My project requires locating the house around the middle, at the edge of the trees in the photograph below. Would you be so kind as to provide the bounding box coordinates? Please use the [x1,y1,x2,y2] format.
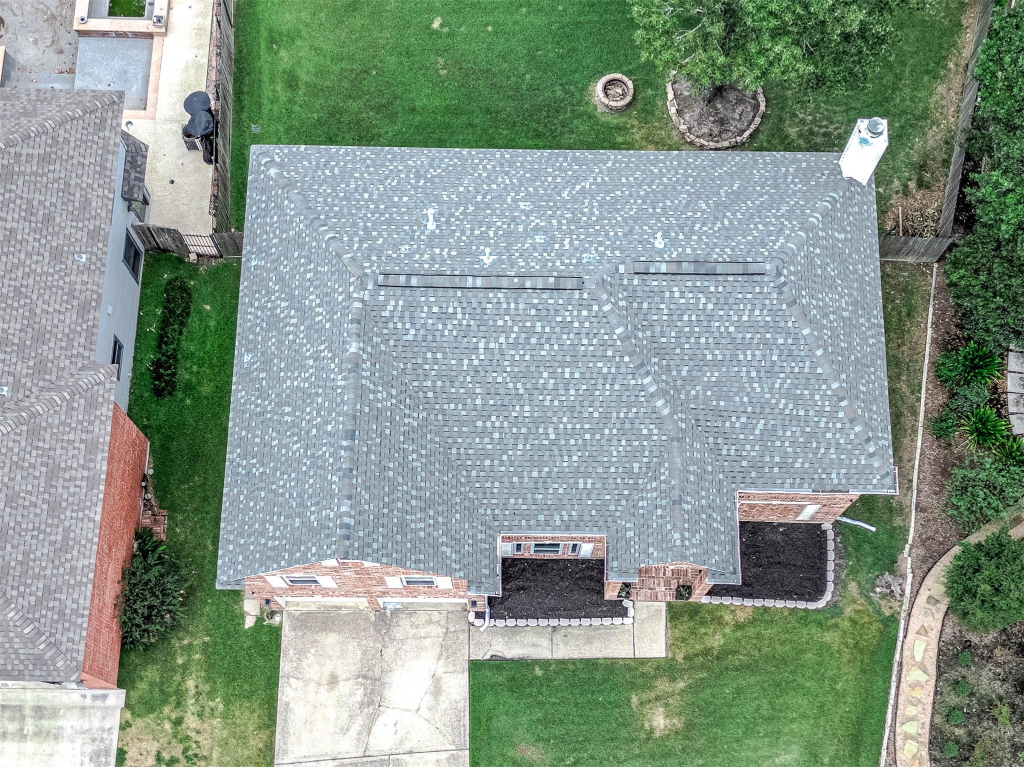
[216,113,897,631]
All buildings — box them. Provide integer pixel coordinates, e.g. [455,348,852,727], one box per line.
[0,87,166,686]
[216,113,897,631]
